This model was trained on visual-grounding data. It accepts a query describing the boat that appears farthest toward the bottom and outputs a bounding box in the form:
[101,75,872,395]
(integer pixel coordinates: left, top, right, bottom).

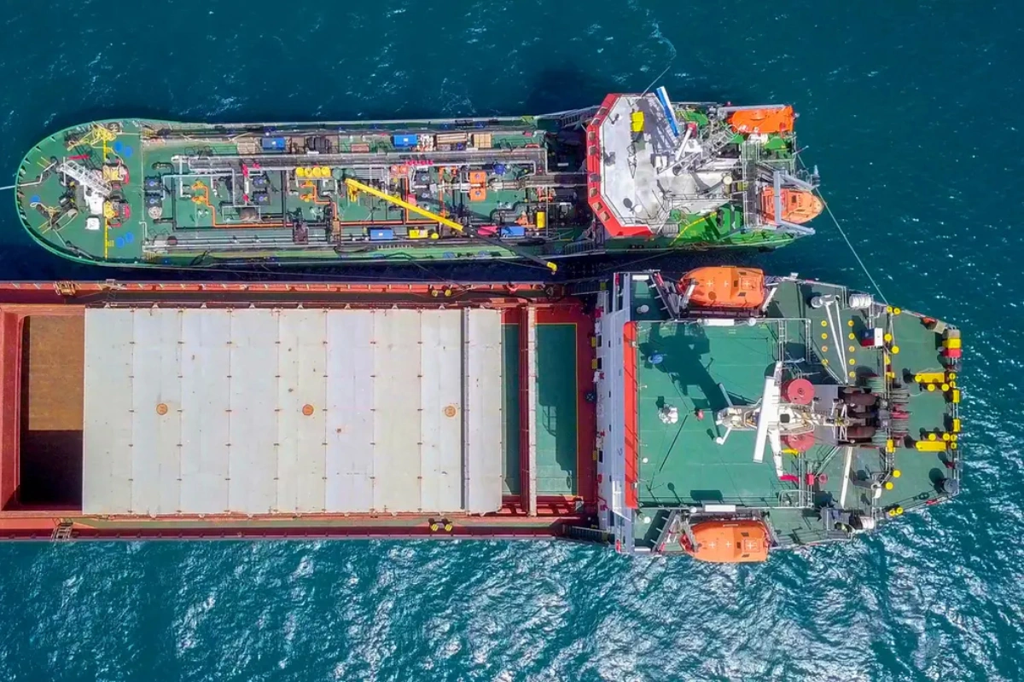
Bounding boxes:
[681,521,772,565]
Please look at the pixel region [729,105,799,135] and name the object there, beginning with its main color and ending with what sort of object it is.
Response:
orange boat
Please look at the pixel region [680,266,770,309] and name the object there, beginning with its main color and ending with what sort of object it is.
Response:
orange boat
